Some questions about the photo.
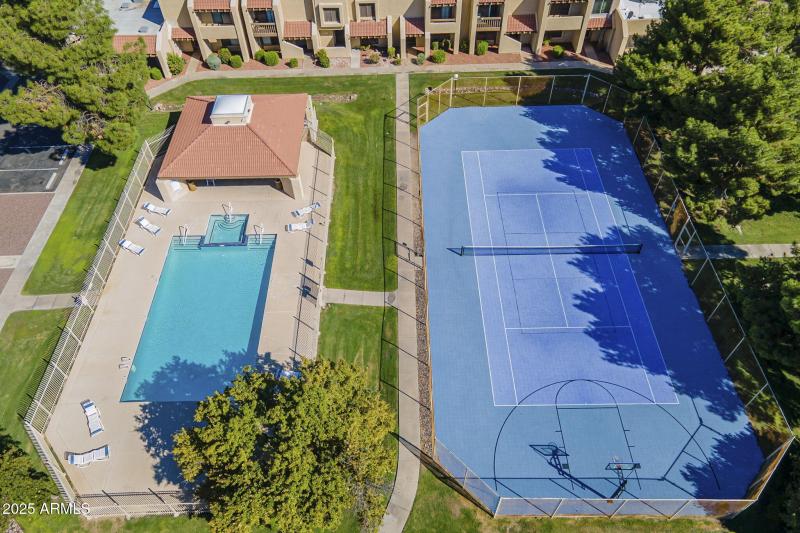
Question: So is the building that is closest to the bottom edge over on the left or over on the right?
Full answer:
The building that is closest to the bottom edge is on the left side of the image.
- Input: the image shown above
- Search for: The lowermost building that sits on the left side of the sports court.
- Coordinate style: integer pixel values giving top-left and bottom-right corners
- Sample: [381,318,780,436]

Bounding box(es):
[155,91,320,202]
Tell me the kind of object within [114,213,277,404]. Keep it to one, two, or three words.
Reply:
swimming pool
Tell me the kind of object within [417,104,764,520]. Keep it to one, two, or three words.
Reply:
sports court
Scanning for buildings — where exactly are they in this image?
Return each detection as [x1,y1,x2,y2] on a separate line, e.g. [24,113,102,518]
[24,0,670,77]
[155,91,320,202]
